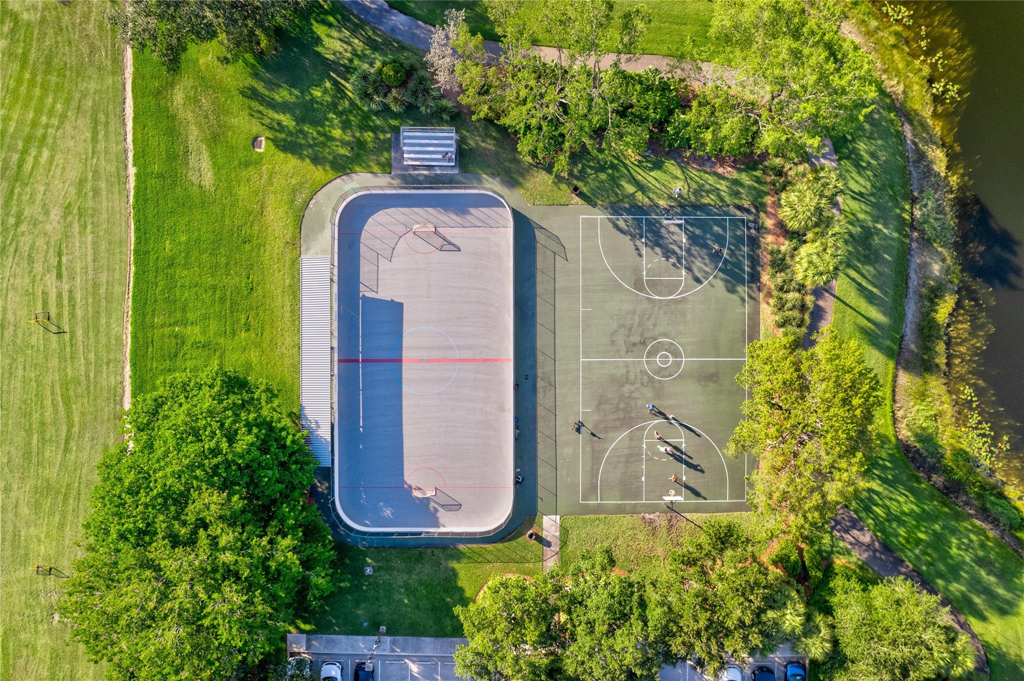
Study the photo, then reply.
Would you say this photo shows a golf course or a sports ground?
sports ground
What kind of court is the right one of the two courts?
basketball court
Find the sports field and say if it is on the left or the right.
left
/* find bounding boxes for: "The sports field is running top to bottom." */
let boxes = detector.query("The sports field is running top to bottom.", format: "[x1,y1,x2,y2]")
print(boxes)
[0,0,128,681]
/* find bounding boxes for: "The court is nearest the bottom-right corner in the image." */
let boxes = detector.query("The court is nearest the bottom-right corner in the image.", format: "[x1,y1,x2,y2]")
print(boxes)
[557,205,760,515]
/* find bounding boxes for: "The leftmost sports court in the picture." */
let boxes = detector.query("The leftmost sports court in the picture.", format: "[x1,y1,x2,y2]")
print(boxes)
[333,188,513,533]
